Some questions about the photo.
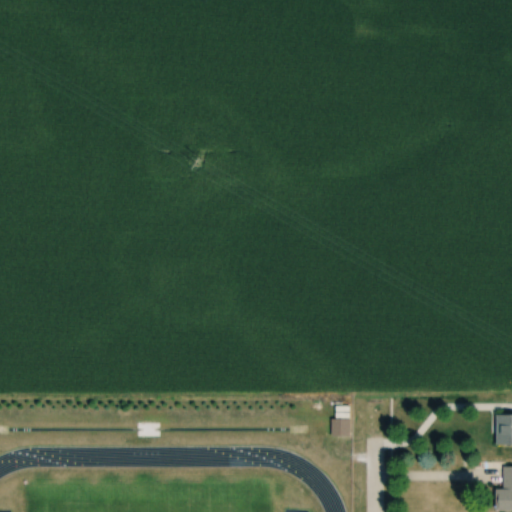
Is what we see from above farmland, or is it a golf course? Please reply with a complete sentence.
The picture captures farmland.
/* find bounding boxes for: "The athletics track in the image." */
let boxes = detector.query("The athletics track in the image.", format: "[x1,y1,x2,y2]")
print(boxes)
[0,448,345,512]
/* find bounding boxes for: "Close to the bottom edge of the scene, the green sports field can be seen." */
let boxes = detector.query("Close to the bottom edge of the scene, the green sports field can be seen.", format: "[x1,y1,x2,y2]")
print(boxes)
[20,470,286,512]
